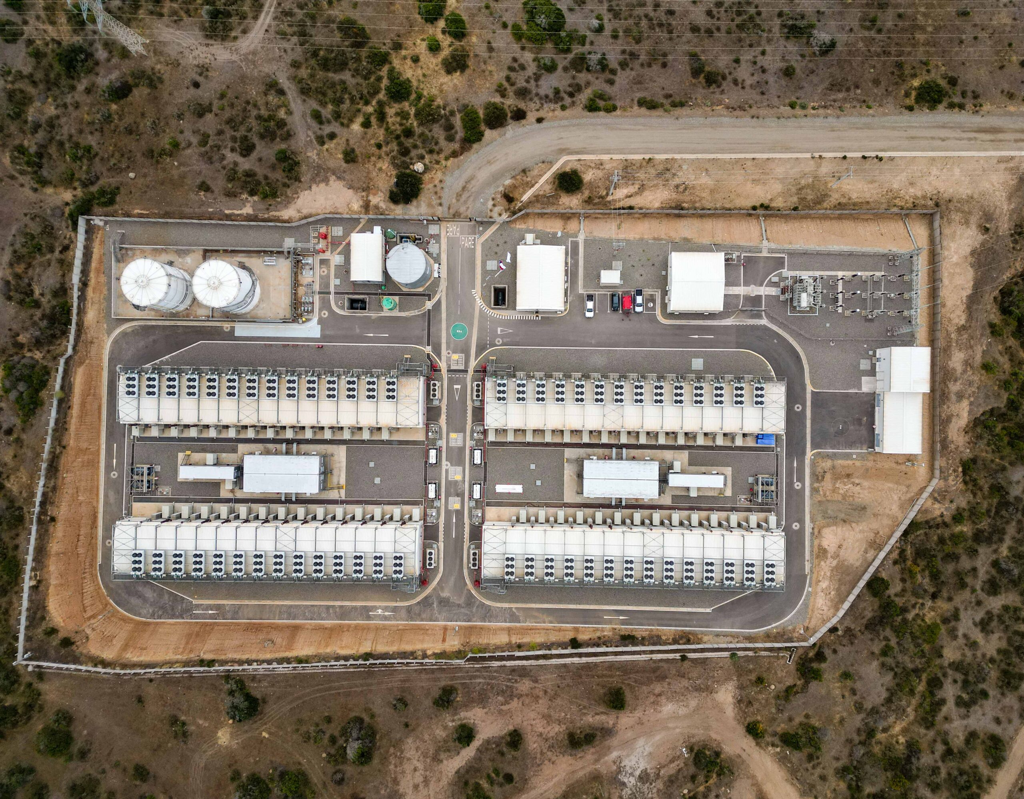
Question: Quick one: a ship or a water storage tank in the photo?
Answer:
water storage tank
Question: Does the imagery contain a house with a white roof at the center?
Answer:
Yes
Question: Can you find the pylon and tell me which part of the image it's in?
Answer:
top left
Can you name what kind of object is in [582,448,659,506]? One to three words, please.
house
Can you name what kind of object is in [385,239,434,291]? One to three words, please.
water tank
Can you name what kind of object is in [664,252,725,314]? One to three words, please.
building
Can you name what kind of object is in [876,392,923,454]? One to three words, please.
building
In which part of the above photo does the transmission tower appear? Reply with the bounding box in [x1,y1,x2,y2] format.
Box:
[63,0,152,57]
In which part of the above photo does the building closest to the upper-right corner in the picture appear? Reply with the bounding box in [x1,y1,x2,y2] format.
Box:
[876,347,931,392]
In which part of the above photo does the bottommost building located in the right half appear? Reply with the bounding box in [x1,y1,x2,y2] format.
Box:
[477,515,786,596]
